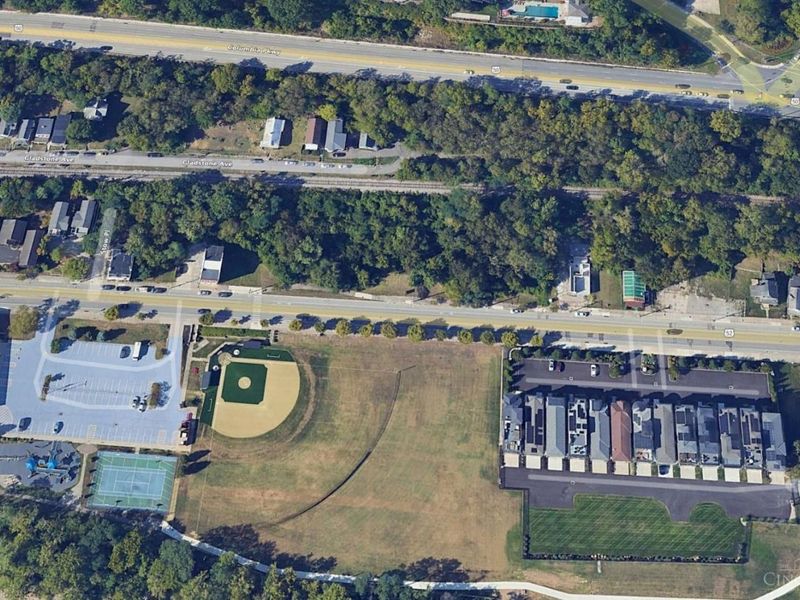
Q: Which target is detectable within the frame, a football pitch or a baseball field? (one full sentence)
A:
There is a baseball field in the scene.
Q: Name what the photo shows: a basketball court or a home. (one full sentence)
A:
It is a home that can be seen here.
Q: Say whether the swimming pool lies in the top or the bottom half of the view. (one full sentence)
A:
The swimming pool sits in the top half of the picture.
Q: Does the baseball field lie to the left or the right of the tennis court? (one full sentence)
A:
Relative to the tennis court, the baseball field is on the right.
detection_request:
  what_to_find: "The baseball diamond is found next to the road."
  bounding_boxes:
[168,336,502,583]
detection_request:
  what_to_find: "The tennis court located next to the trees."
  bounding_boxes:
[88,451,177,512]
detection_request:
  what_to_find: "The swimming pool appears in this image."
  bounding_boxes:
[500,0,590,27]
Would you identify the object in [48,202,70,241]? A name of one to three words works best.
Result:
house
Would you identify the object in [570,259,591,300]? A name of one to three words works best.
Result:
building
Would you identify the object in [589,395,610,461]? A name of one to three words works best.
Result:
house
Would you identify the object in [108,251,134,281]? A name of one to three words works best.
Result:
building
